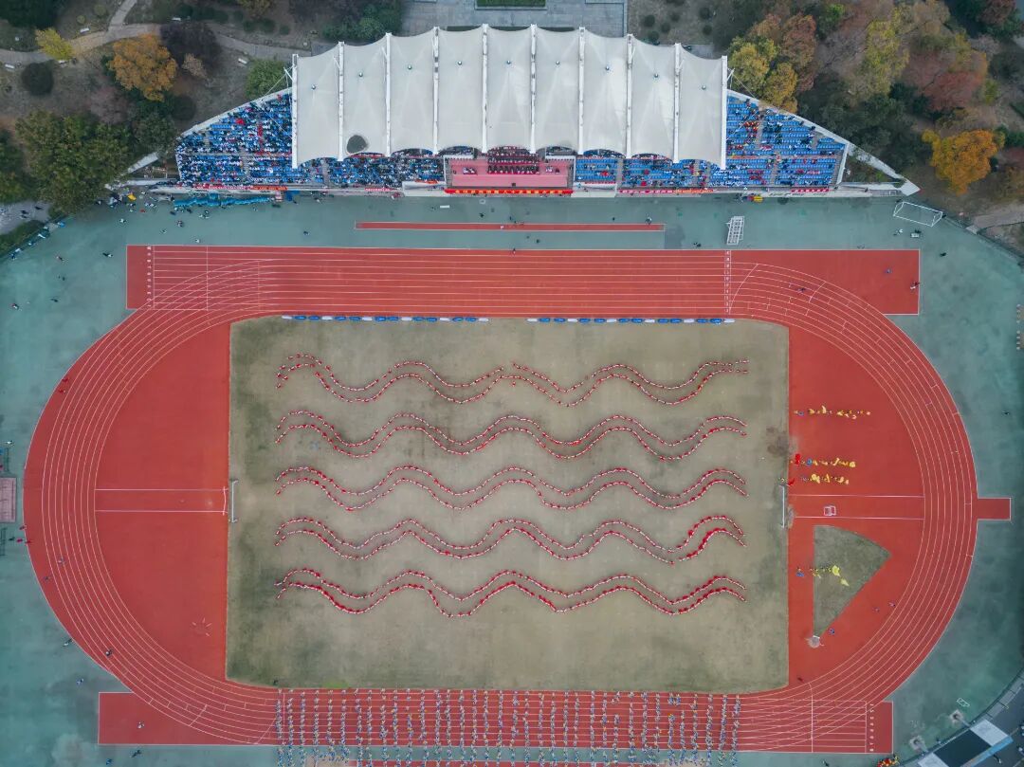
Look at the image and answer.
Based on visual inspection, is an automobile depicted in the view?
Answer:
No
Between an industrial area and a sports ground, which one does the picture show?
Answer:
sports ground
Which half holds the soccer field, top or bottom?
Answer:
bottom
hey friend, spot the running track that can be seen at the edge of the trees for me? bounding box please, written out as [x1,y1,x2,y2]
[24,245,1011,751]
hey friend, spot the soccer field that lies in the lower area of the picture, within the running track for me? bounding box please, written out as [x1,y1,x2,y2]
[226,315,790,693]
